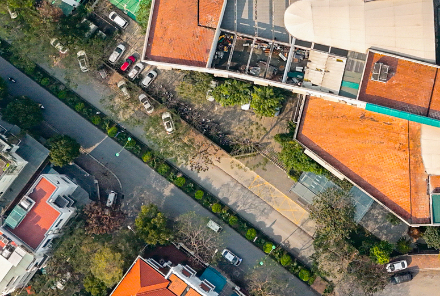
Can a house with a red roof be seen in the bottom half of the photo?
Yes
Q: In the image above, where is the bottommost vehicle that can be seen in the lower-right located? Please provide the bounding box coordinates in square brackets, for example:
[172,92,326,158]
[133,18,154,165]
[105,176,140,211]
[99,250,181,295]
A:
[390,272,412,285]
